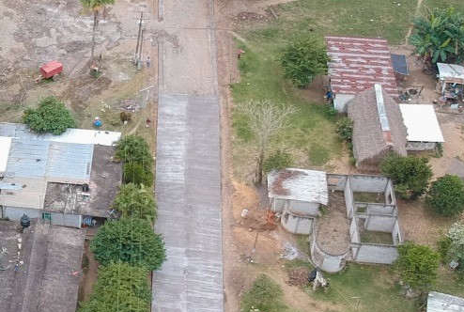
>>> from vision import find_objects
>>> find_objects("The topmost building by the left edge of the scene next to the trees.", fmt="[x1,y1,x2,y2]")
[0,123,123,226]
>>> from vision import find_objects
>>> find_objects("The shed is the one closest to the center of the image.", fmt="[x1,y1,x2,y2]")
[267,168,327,215]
